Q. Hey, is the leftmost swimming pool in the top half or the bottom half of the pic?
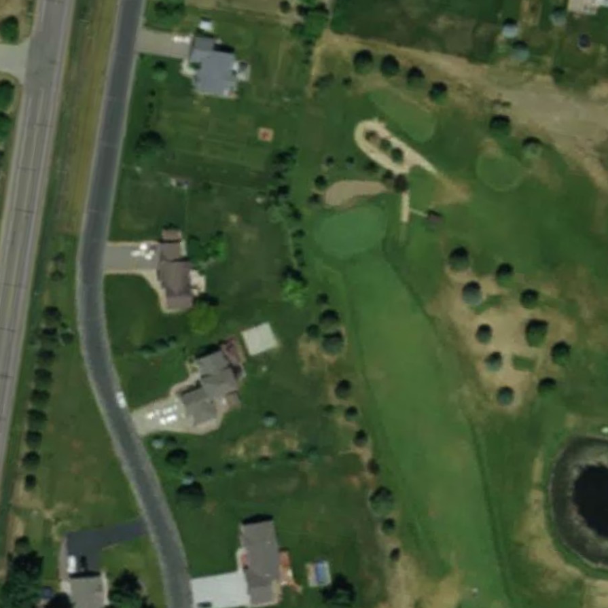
bottom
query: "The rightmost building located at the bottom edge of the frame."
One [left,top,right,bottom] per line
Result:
[240,521,292,607]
